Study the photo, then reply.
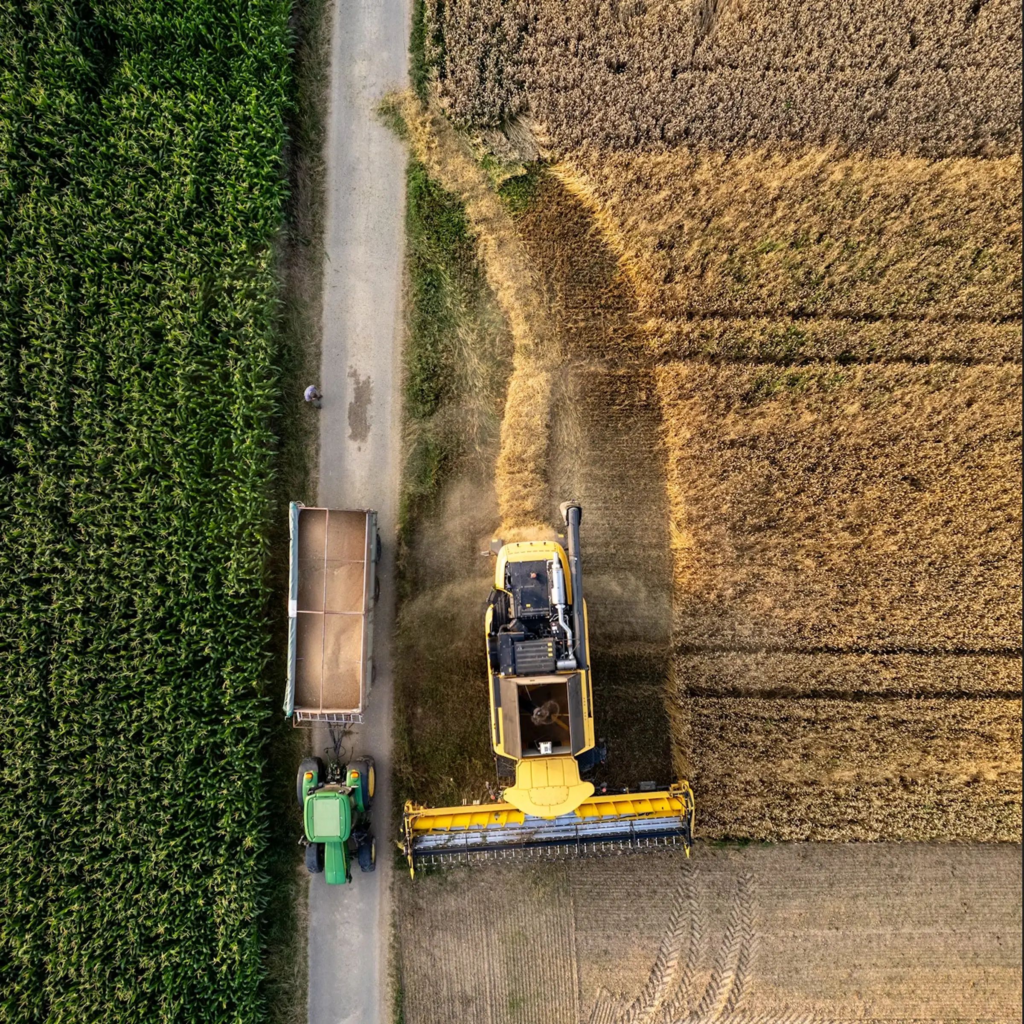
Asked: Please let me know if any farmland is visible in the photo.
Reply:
Yes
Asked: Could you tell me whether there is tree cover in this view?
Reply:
No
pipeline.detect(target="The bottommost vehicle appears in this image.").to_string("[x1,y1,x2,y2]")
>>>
[298,745,378,885]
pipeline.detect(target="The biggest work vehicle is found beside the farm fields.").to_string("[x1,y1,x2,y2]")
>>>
[396,500,695,880]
